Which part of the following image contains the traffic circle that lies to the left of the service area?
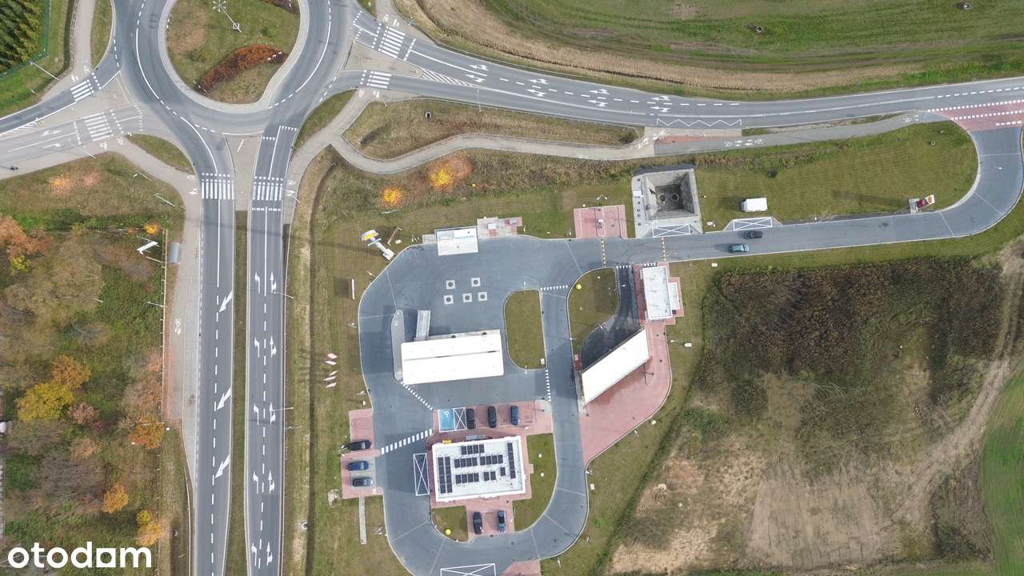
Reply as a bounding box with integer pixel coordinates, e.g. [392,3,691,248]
[101,0,362,181]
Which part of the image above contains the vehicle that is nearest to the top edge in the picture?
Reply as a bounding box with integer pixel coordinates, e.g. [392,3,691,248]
[741,198,767,212]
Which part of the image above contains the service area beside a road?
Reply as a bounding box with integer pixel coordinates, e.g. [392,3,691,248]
[340,111,1024,576]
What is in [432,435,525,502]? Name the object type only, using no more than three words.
building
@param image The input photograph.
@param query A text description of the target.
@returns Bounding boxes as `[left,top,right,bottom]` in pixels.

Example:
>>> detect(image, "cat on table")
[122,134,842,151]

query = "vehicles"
[352,476,374,487]
[487,405,498,429]
[465,407,476,429]
[472,510,483,535]
[346,460,370,471]
[496,509,507,533]
[729,243,750,253]
[510,405,520,426]
[741,198,767,212]
[349,440,373,451]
